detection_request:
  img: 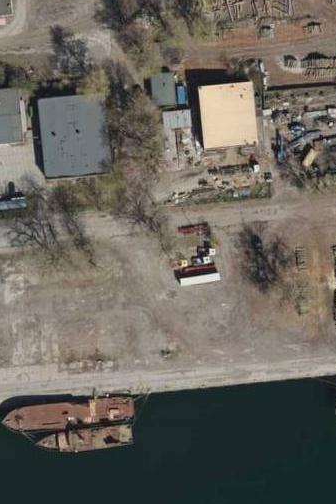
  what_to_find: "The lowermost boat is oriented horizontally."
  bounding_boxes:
[37,424,133,452]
